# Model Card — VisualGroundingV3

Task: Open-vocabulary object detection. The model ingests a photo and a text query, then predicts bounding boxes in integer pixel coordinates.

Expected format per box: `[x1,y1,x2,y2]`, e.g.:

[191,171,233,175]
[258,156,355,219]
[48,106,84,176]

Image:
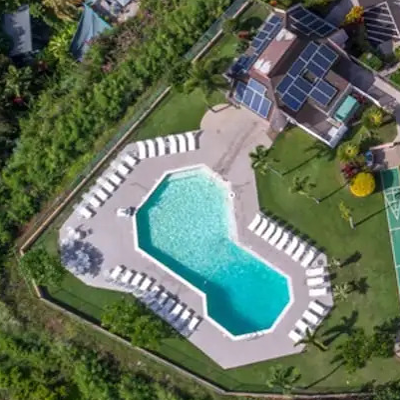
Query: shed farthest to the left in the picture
[3,5,42,60]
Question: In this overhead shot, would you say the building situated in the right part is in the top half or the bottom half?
top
